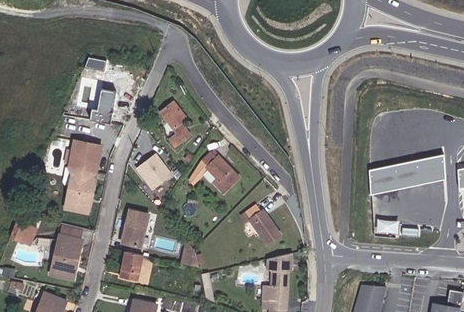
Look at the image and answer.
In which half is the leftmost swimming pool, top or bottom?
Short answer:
bottom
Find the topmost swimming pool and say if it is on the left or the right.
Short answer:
left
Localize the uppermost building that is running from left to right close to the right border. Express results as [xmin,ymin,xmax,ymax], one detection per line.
[368,154,445,196]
